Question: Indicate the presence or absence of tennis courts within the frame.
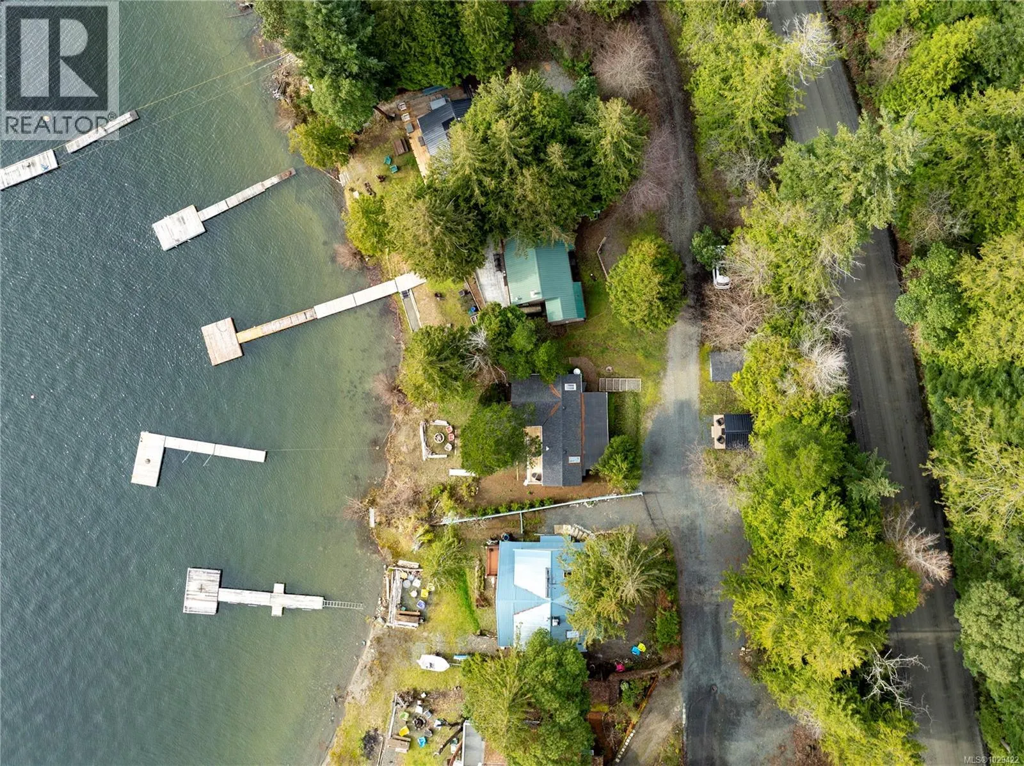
No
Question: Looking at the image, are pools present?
No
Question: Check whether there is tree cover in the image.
Yes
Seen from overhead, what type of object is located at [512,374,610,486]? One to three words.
house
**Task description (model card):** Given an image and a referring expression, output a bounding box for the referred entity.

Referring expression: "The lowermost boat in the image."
[414,655,459,674]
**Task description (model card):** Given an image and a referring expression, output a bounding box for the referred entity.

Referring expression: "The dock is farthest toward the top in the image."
[66,110,140,153]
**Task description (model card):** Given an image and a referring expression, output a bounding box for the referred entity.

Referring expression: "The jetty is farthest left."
[0,149,59,190]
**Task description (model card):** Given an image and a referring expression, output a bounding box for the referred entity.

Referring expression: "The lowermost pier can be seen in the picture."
[184,568,324,617]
